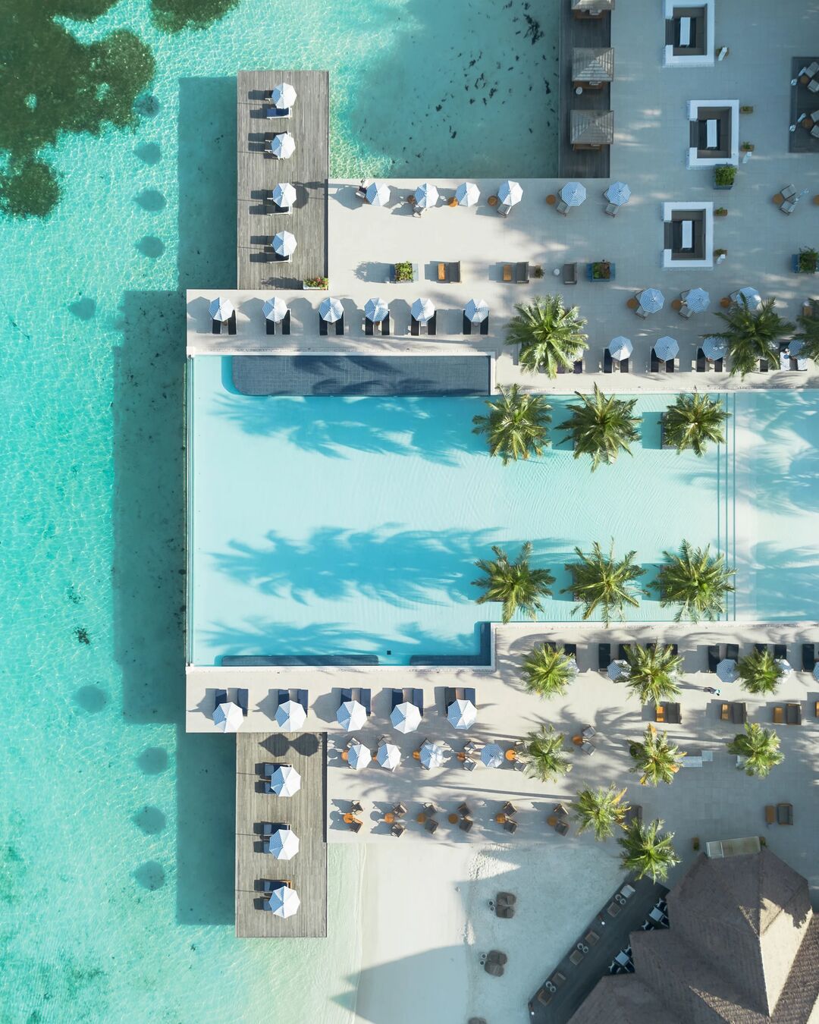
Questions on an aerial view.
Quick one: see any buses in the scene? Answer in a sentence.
No, the scene contains no bus.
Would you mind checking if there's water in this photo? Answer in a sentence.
Yes, water shows up in the scene.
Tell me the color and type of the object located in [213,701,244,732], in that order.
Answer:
white umbrella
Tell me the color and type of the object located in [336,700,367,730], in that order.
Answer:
white umbrella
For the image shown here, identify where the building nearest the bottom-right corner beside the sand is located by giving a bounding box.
[564,847,819,1024]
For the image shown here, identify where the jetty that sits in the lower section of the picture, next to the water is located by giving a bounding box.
[236,733,327,938]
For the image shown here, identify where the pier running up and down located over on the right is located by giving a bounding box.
[558,0,610,179]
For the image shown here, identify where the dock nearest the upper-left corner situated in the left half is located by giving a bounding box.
[237,70,328,290]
